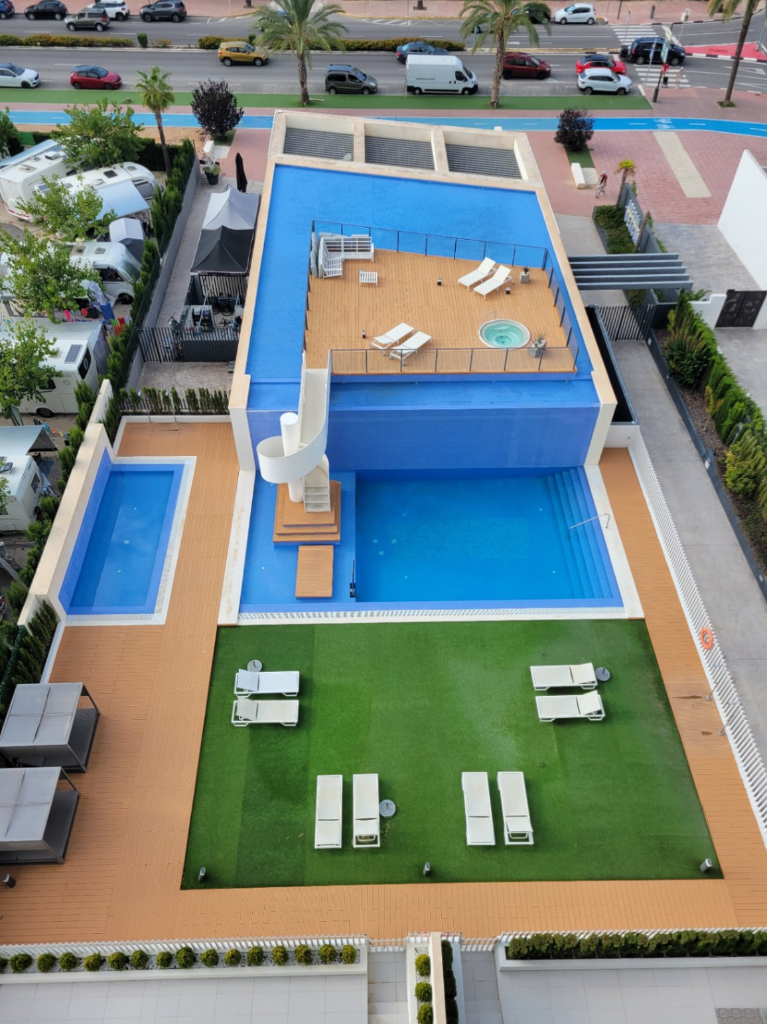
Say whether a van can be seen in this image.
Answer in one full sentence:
Yes, a van is visible in the scene.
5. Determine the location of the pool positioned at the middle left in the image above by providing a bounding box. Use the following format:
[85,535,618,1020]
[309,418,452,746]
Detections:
[67,457,196,625]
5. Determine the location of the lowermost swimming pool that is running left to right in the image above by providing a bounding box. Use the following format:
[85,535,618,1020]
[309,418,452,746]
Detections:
[218,467,645,625]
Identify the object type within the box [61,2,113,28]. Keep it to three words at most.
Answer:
car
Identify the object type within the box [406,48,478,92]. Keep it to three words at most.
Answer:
van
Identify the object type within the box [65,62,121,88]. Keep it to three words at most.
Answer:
car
